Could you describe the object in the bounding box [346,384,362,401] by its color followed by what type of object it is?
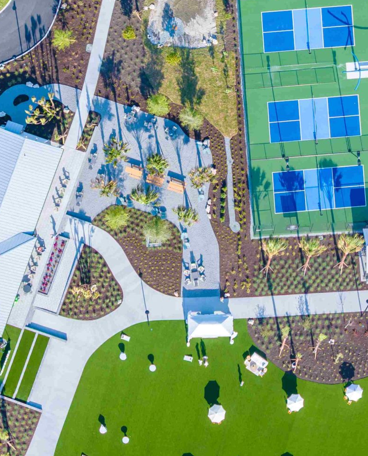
white umbrella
